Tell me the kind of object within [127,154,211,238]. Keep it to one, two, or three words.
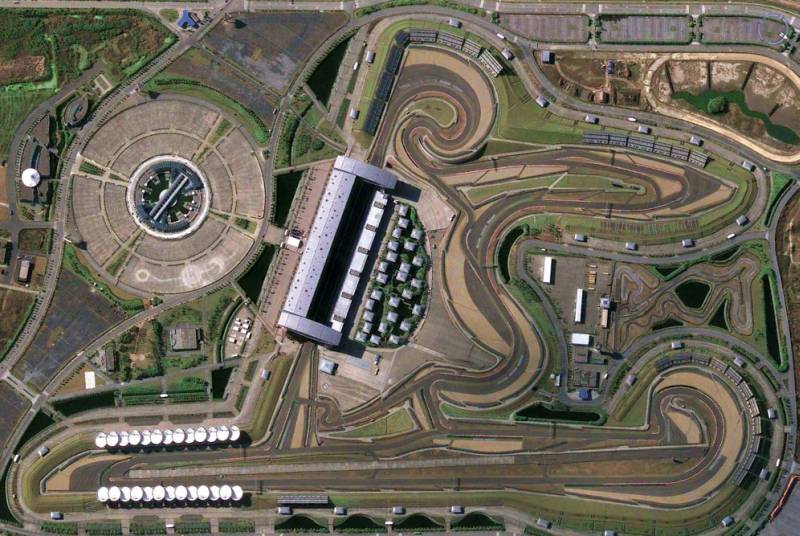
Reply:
building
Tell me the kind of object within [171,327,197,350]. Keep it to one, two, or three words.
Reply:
building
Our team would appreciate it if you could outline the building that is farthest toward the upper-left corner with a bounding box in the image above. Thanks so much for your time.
[62,94,88,126]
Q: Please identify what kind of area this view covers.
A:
sports ground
